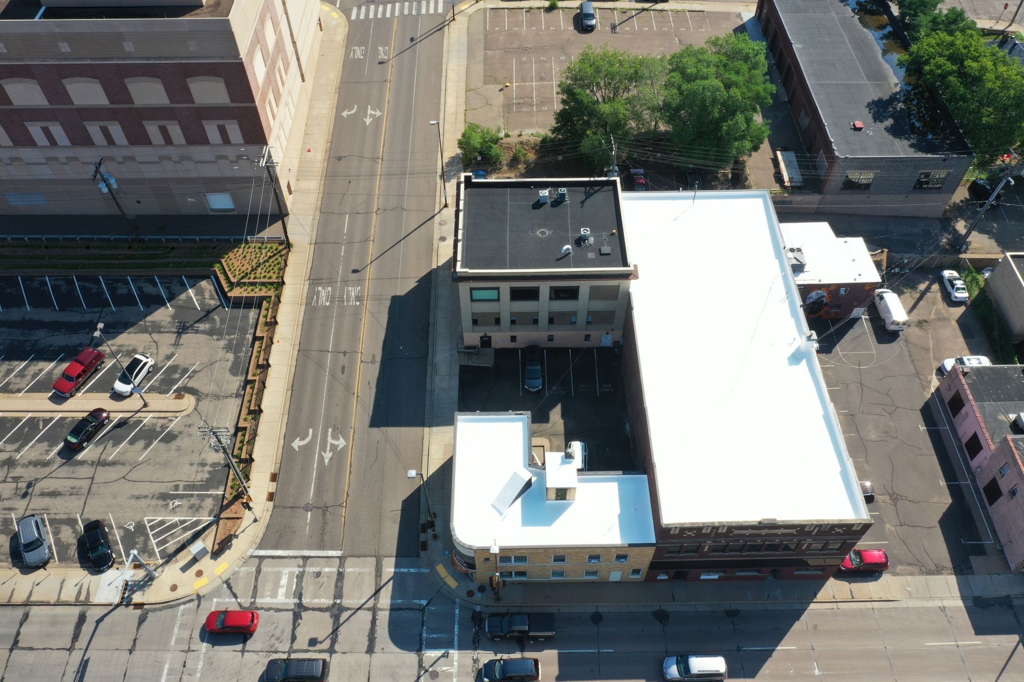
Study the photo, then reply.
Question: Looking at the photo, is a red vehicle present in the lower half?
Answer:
Yes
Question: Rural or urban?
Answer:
urban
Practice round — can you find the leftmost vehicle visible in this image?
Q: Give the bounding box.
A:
[14,512,52,566]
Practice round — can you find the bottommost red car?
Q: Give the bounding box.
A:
[202,606,263,638]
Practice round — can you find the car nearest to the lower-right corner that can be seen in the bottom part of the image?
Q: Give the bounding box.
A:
[836,548,895,580]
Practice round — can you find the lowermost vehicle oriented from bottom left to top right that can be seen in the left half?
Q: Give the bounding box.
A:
[60,408,114,453]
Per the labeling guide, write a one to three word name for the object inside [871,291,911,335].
van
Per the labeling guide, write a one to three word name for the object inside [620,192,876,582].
building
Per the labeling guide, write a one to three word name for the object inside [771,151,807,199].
trailer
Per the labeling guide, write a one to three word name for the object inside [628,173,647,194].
car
